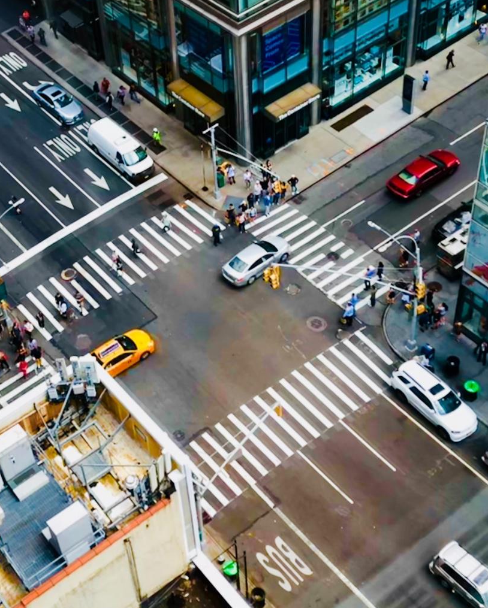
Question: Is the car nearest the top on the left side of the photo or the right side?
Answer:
left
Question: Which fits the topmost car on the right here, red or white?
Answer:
red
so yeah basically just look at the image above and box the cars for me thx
[437,196,472,235]
[35,81,85,122]
[98,330,156,376]
[224,230,295,284]
[440,546,488,608]
[395,360,484,437]
[390,145,461,196]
